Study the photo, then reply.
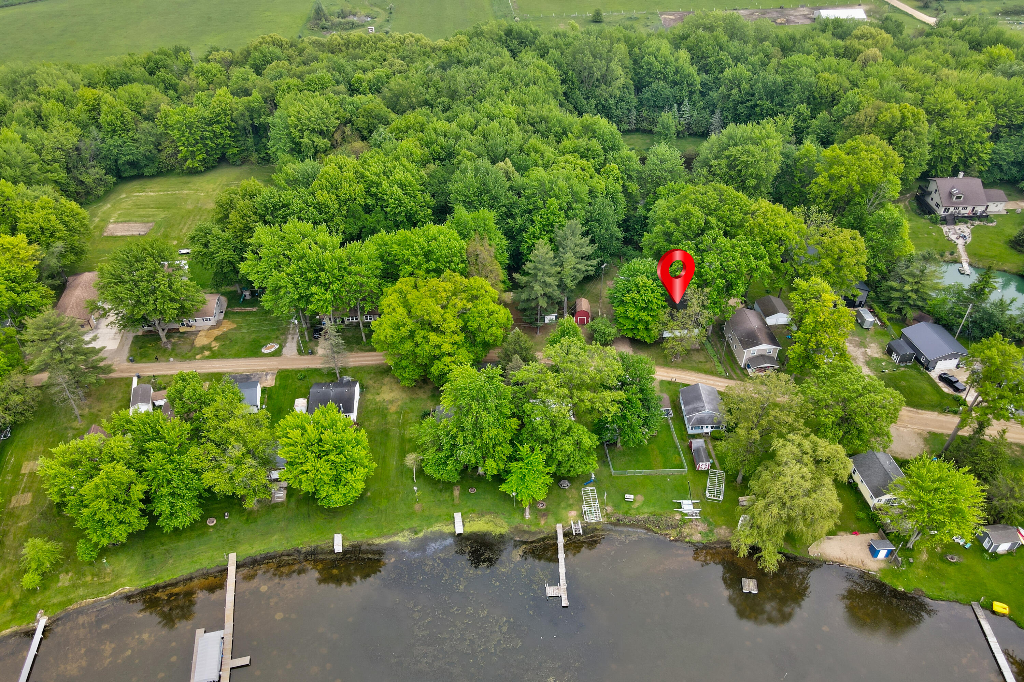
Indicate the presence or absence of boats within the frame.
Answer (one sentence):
Yes, there's a boat here.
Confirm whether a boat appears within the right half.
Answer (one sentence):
Yes, a boat can be seen within the right half.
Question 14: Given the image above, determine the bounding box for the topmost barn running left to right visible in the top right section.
[810,9,869,22]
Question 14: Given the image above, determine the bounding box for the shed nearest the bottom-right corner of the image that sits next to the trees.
[976,524,1023,553]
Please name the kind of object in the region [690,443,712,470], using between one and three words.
shed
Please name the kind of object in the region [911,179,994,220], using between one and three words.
house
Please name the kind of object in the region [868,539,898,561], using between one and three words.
shed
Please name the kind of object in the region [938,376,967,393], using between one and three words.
vehicle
